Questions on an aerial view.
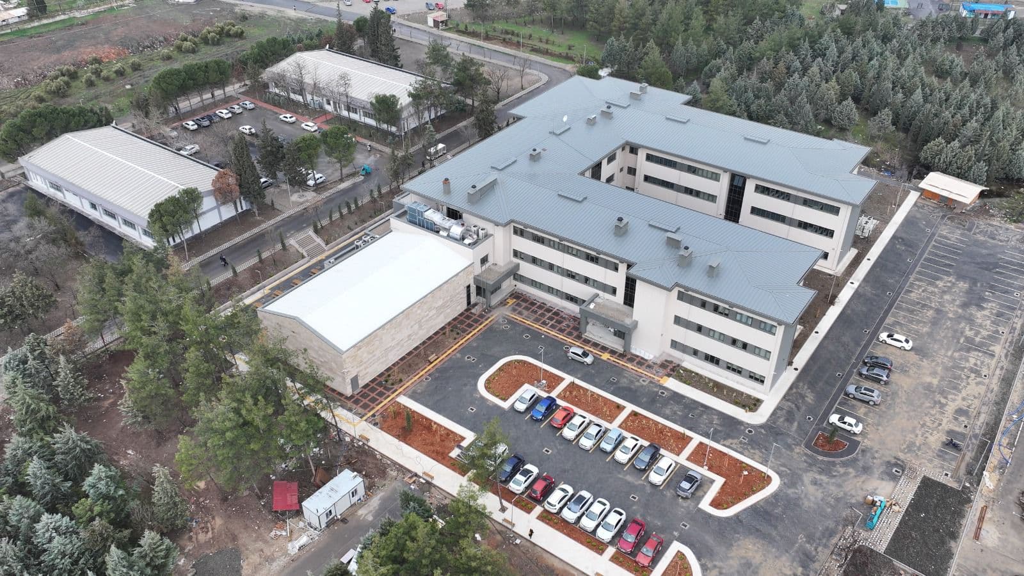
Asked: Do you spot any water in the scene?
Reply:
No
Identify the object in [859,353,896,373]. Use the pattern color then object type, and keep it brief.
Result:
gray car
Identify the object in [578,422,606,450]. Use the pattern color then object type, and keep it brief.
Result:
white car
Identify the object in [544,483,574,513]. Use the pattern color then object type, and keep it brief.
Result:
white car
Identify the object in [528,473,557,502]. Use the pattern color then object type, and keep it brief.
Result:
red car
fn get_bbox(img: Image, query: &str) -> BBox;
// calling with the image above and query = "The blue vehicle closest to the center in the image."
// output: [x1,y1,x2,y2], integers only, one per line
[529,396,558,422]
